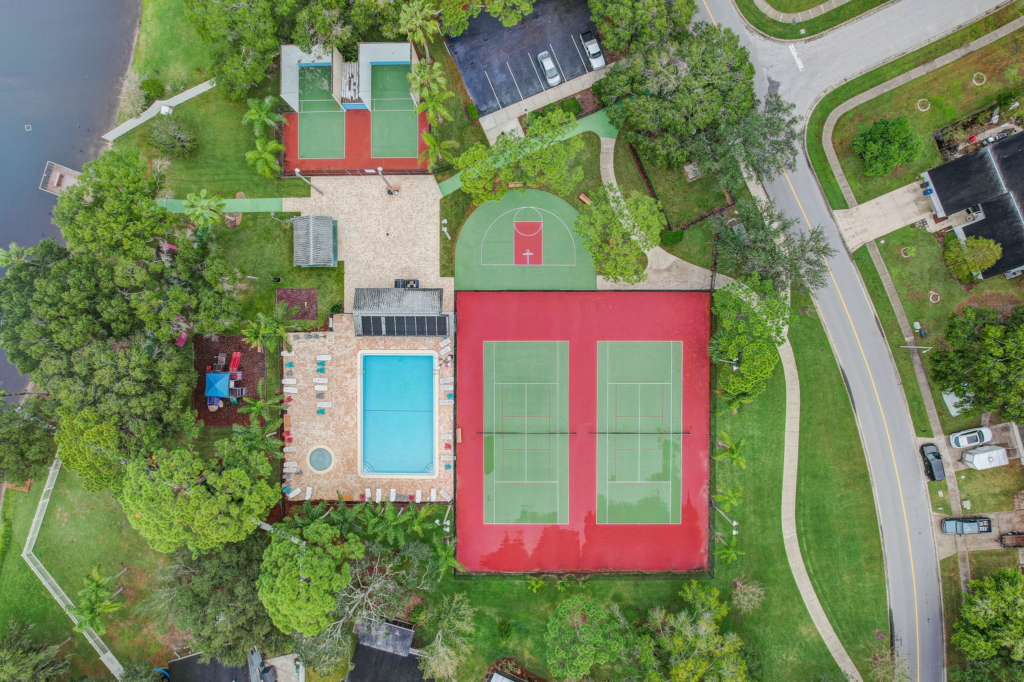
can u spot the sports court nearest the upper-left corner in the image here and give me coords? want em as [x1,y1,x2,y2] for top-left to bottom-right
[279,42,358,173]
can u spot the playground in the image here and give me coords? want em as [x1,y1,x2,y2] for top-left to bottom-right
[206,352,252,410]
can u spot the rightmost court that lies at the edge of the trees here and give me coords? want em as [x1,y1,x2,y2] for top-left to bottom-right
[583,291,710,572]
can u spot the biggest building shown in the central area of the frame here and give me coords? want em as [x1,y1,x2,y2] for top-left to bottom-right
[353,288,454,336]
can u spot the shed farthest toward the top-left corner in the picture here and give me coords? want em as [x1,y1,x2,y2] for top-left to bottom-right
[342,60,368,111]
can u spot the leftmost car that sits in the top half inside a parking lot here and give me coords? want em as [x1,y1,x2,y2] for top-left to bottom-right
[536,49,560,89]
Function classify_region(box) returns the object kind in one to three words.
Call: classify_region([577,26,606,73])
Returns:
truck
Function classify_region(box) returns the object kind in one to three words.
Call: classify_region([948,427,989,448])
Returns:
car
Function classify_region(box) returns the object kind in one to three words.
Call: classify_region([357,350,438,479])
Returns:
swimming pool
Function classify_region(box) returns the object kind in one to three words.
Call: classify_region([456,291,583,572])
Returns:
tennis court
